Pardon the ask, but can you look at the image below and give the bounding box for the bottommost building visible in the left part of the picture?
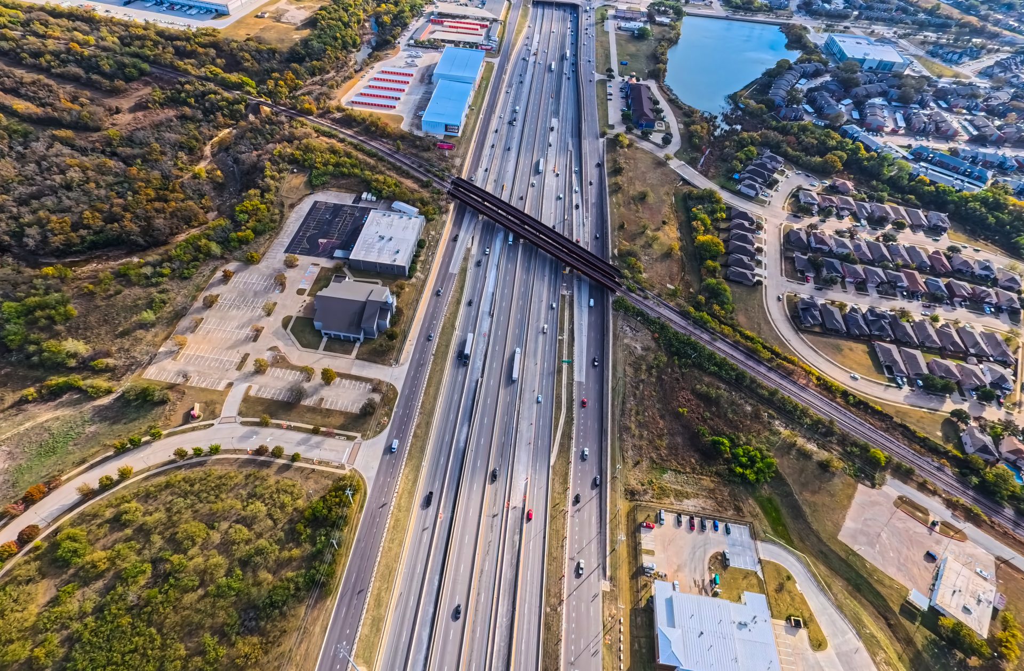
[309,275,394,339]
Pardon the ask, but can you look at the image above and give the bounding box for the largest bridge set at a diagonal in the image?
[448,176,622,296]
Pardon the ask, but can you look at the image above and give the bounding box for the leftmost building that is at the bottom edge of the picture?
[651,579,782,671]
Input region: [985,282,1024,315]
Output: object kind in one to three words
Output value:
house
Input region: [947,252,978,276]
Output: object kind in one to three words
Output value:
house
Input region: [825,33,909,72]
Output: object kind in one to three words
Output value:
building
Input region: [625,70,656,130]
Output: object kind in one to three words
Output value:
building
